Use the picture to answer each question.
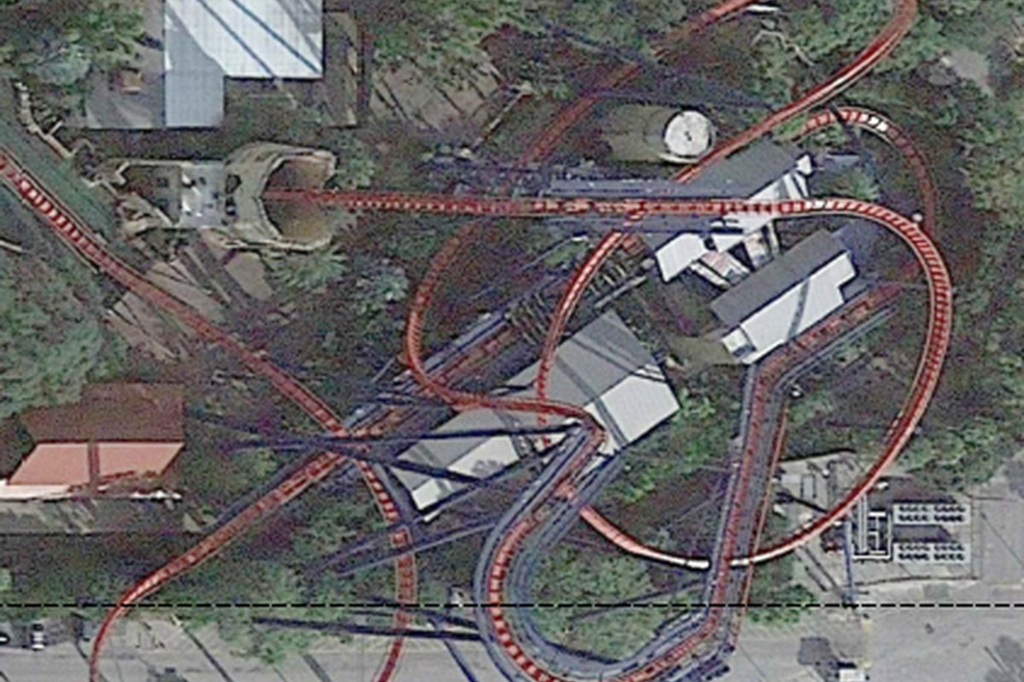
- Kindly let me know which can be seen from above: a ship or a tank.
tank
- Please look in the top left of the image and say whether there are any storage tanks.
No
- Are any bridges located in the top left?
No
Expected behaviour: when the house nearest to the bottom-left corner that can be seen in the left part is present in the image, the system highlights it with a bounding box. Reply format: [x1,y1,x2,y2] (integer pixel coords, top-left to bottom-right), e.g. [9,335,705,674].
[0,384,184,498]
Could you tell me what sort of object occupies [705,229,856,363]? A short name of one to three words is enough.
building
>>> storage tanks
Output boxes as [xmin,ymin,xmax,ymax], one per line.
[605,105,713,166]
